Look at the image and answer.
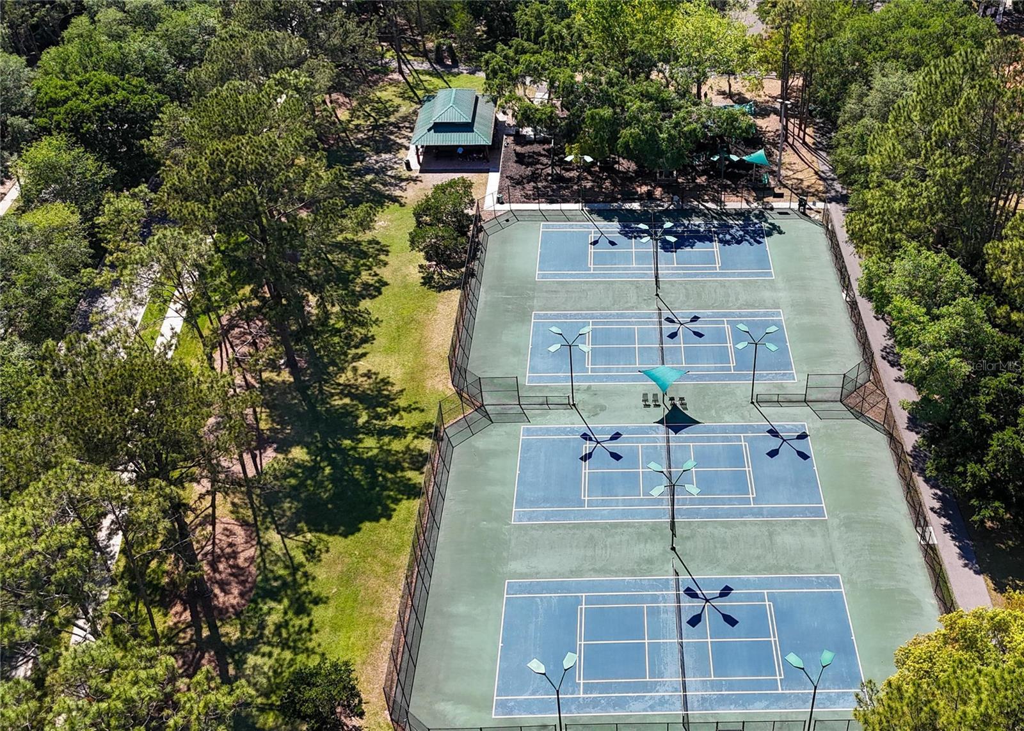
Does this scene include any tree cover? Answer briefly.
Yes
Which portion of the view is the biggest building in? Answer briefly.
top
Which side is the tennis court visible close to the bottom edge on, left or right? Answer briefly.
right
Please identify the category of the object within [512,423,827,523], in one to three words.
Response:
tennis court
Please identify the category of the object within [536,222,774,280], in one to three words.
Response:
tennis court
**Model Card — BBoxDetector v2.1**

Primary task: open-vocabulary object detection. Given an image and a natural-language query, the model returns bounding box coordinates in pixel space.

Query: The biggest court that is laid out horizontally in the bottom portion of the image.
[493,575,870,718]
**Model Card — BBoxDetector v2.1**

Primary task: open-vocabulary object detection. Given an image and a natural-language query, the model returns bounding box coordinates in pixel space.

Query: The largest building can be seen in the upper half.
[411,88,502,162]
